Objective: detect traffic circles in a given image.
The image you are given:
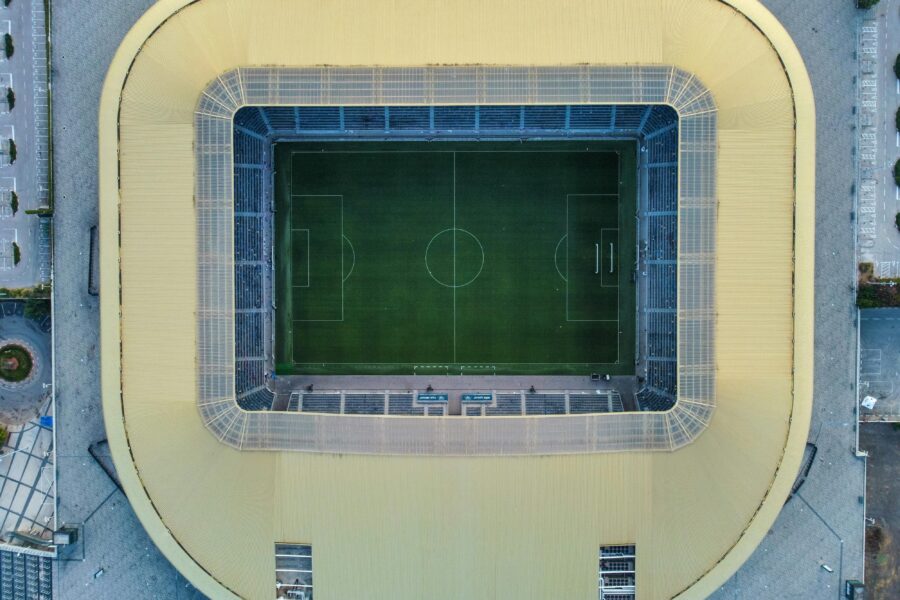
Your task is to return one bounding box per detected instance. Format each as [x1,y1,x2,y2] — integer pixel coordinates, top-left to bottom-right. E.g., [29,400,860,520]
[0,327,49,400]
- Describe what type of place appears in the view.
sports ground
